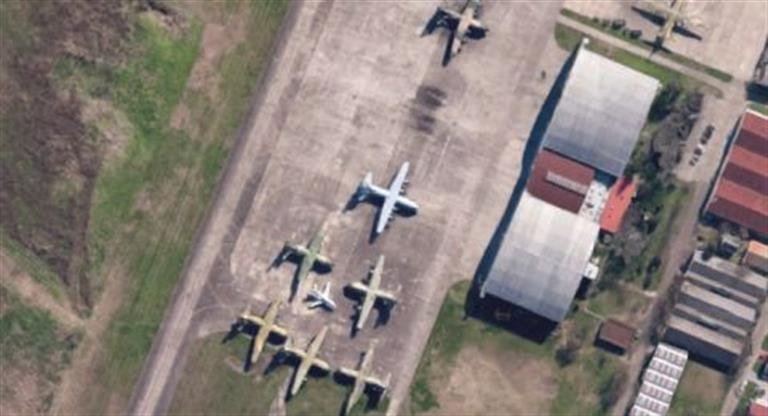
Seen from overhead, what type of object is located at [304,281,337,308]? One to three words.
airplane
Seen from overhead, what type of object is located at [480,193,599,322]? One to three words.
hangar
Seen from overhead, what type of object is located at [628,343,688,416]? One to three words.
shed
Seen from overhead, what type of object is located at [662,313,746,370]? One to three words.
building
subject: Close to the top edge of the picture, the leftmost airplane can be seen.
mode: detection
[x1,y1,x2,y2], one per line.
[432,0,487,60]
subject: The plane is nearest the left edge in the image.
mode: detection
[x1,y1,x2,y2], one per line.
[234,293,288,364]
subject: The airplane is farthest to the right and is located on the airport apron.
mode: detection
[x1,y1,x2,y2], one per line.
[638,0,710,47]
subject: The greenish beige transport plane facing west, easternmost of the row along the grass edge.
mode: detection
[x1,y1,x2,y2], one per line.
[339,341,394,415]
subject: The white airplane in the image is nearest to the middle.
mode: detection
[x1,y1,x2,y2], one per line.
[357,163,418,235]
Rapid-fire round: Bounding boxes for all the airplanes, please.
[339,341,394,415]
[638,0,710,47]
[350,254,404,328]
[432,0,487,60]
[278,222,333,292]
[276,325,331,396]
[357,163,418,235]
[304,281,337,308]
[234,293,288,364]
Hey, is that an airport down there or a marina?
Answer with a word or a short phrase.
airport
